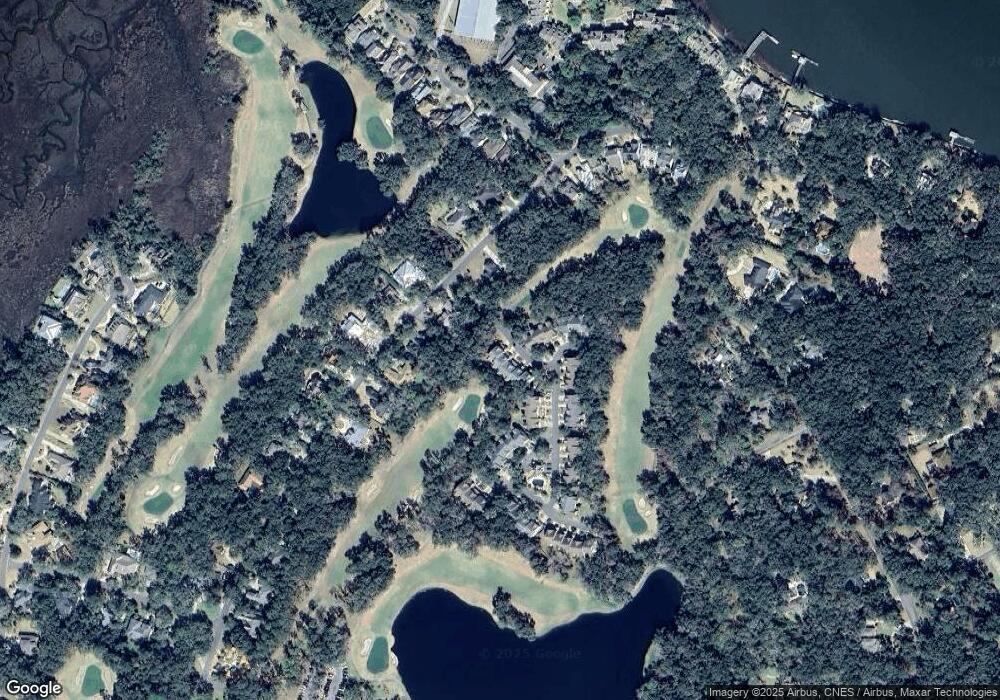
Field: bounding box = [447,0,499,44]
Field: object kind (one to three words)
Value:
building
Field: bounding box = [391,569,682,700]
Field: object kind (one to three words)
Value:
pond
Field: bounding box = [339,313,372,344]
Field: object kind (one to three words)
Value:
house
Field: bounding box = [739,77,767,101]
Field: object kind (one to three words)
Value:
house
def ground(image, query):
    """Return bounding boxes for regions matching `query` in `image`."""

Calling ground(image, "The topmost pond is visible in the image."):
[292,62,396,236]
